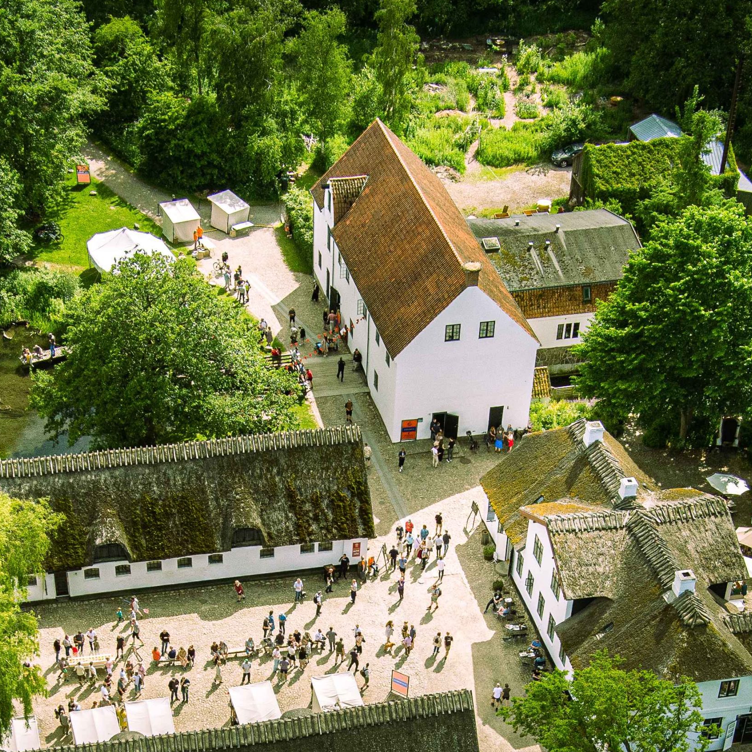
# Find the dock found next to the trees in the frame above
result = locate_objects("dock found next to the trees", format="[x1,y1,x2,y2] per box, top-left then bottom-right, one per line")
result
[17,343,78,371]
